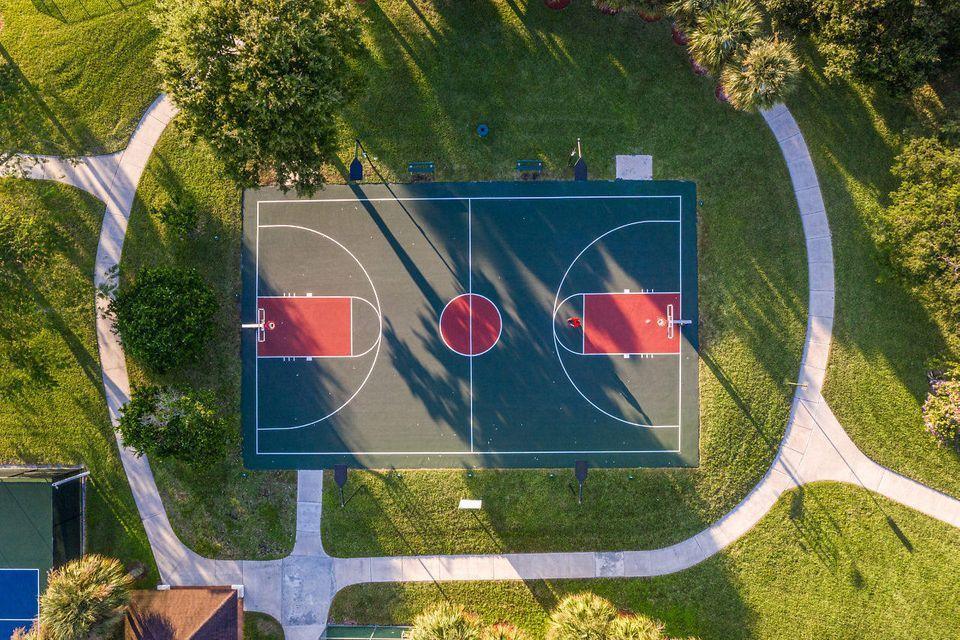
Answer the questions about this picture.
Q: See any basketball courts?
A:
Yes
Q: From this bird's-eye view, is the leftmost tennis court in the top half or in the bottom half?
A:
bottom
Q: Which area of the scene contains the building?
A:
bottom left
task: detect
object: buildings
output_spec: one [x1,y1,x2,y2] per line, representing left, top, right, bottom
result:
[124,585,245,640]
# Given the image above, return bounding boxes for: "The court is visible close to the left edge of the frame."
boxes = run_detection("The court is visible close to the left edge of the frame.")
[0,469,81,640]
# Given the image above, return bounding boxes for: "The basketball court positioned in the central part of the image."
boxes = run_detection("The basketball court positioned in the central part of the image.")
[242,181,699,470]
